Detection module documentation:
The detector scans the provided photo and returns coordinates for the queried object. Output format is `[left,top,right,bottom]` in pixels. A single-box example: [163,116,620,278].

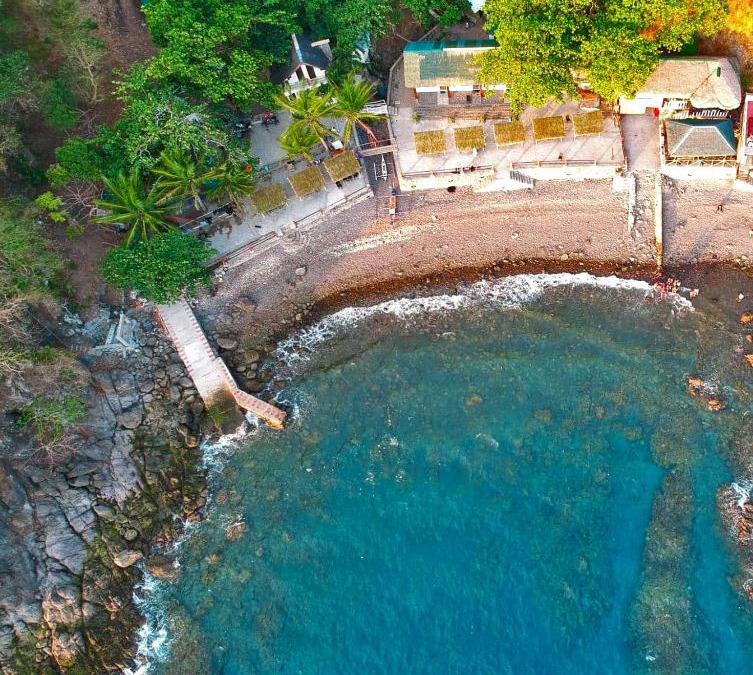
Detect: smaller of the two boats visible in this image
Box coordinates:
[374,155,392,182]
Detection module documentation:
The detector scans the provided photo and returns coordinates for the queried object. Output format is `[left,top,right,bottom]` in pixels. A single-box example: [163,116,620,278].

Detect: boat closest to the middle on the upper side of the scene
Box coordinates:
[379,182,410,220]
